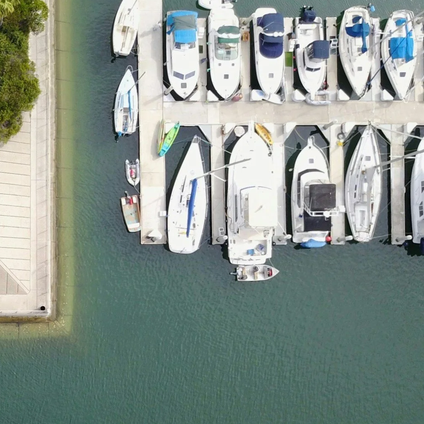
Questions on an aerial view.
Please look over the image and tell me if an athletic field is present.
No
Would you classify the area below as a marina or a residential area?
marina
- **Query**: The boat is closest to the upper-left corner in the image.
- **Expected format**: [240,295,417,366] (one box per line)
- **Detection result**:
[111,0,145,57]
